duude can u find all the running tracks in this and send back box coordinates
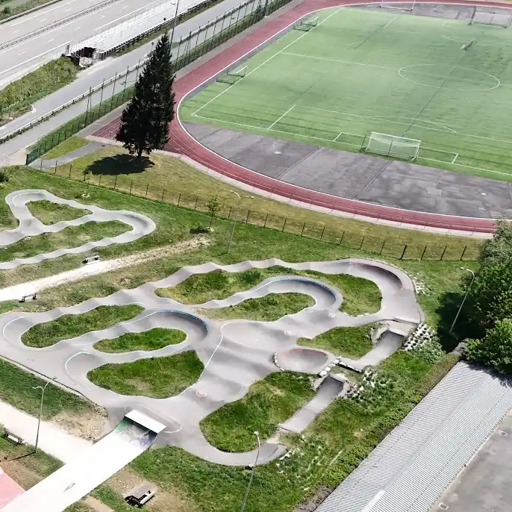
[90,0,512,234]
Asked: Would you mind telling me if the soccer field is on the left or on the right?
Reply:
right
